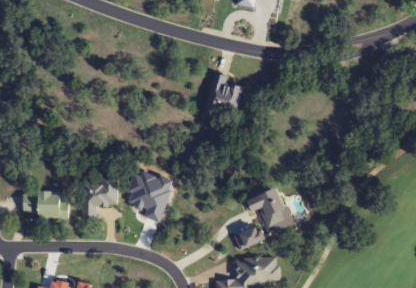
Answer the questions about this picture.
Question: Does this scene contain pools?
Yes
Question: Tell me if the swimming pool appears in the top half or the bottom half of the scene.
bottom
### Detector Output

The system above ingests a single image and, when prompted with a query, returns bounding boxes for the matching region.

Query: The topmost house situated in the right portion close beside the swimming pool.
[246,187,294,232]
